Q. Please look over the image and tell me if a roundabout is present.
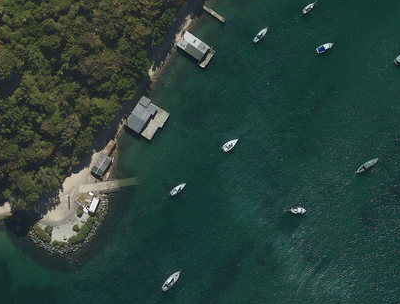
No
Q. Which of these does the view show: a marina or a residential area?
marina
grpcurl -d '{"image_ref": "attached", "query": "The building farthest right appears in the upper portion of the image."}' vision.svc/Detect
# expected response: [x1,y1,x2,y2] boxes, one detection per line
[177,31,216,68]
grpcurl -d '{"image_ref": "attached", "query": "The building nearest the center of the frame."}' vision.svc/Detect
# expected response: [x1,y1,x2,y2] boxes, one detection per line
[126,96,170,140]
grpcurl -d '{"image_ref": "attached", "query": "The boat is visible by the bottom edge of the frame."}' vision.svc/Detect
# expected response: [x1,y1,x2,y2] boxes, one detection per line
[162,269,182,292]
